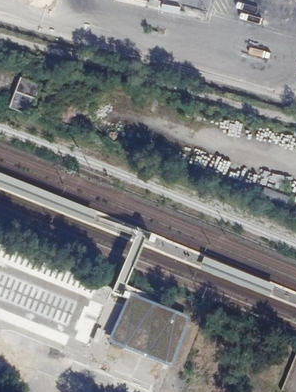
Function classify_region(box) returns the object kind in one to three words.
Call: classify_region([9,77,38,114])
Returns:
shed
